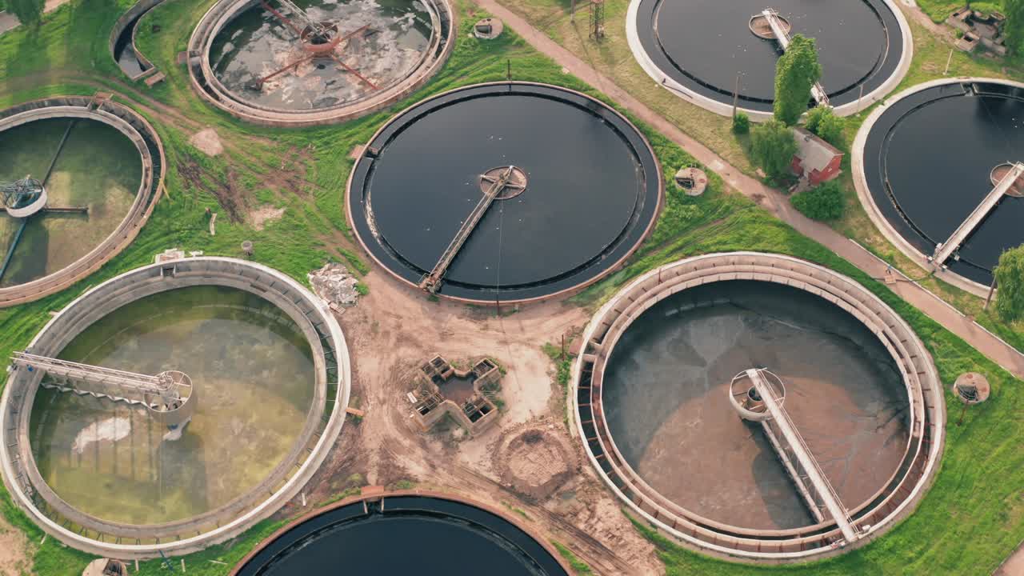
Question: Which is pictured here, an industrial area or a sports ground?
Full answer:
It's an industrial area.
